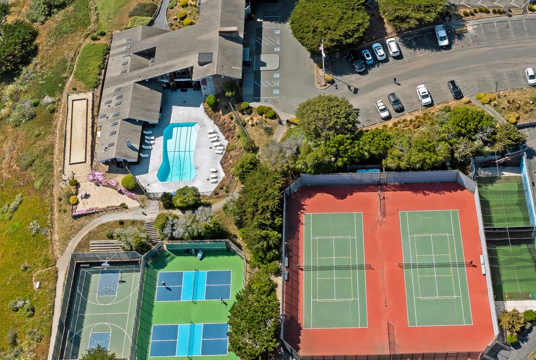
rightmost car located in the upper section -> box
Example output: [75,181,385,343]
[524,67,536,86]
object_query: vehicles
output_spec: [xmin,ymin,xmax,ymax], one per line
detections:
[387,38,400,56]
[374,100,390,119]
[388,93,403,112]
[346,50,364,72]
[360,48,372,65]
[371,43,386,61]
[447,79,462,98]
[435,24,449,46]
[416,85,431,105]
[524,67,536,86]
